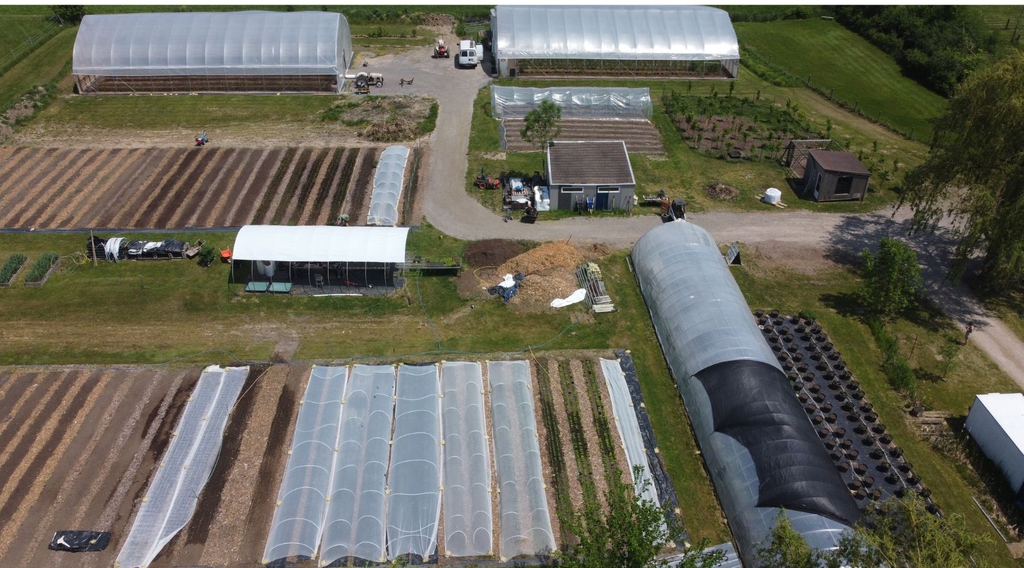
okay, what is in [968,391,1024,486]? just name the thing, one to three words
trailer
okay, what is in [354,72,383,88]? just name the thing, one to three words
work vehicle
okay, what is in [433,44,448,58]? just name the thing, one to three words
work vehicle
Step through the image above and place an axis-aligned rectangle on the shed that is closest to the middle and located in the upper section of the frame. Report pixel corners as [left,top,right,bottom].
[546,139,639,212]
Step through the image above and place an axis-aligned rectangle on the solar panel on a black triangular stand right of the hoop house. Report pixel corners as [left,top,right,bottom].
[725,239,743,265]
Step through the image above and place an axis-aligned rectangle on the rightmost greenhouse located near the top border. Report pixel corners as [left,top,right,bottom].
[489,3,743,78]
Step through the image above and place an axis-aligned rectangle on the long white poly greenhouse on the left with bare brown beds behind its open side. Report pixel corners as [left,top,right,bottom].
[70,9,354,93]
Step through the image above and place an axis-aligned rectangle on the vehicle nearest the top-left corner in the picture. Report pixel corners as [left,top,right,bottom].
[191,124,217,145]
